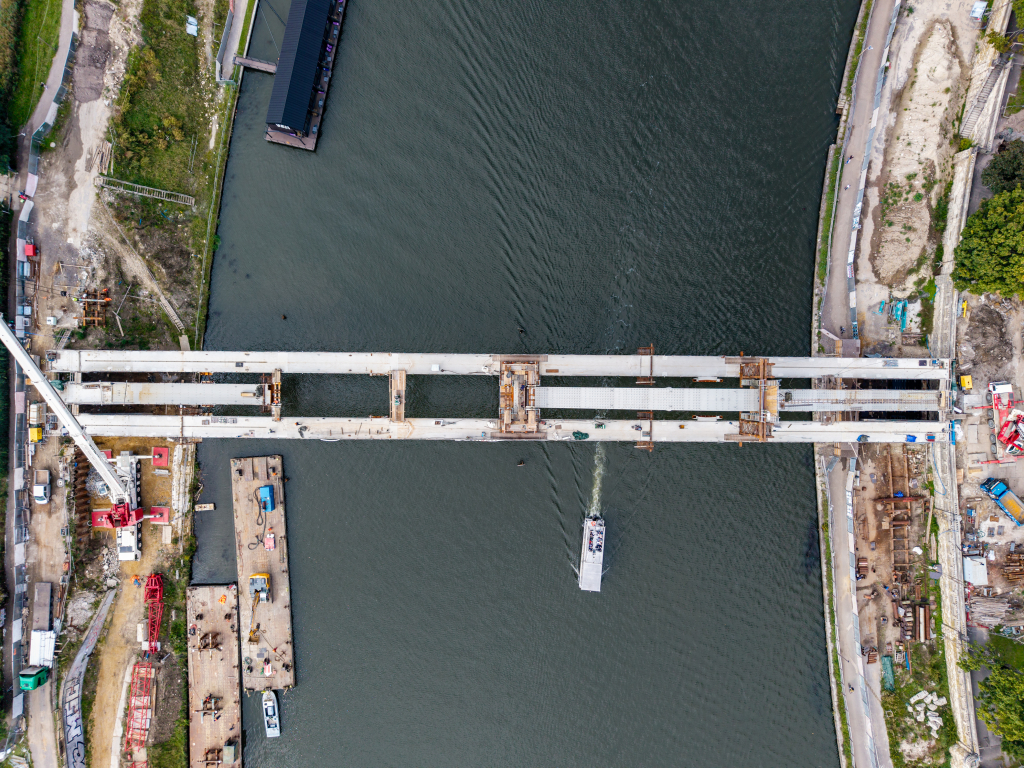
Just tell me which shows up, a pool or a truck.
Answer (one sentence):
This aerial view contains a truck.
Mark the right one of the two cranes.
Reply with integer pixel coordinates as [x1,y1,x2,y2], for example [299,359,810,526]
[963,373,1024,462]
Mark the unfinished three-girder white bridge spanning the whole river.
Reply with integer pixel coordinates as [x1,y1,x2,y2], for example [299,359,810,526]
[48,350,948,443]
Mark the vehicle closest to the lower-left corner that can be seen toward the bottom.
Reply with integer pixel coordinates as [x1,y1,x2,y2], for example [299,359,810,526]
[21,579,57,697]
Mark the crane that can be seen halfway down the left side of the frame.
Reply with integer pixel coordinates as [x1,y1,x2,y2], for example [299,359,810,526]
[0,309,172,562]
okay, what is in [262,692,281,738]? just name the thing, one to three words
boat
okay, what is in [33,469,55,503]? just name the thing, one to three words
truck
